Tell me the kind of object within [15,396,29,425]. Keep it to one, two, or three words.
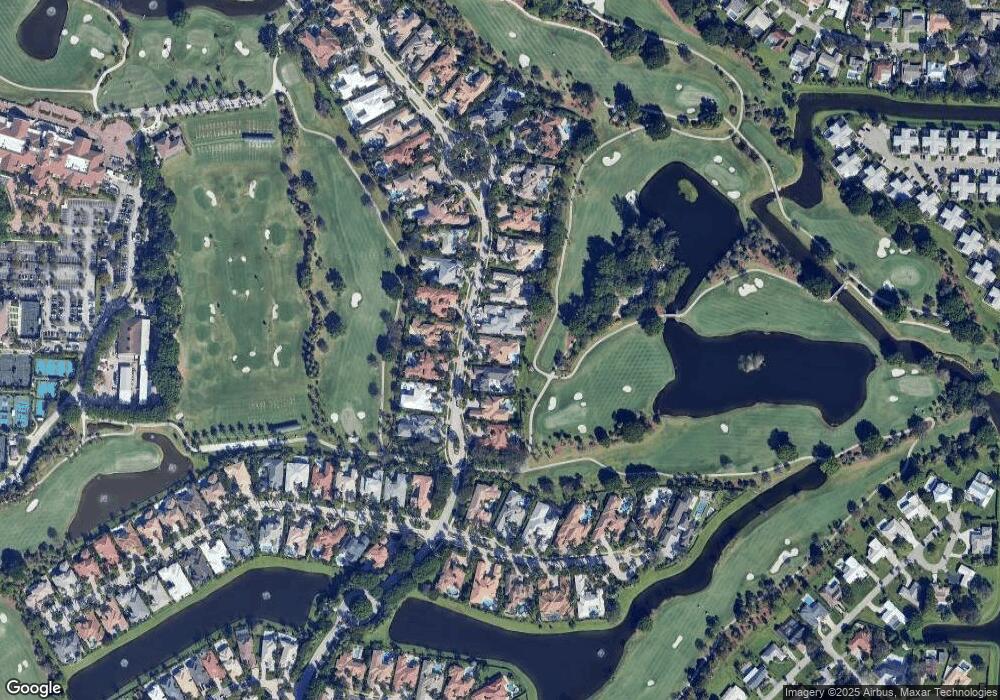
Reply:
tennis court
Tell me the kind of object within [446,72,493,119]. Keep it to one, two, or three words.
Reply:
house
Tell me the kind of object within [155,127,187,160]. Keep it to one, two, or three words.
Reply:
building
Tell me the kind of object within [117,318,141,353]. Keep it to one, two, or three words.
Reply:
barn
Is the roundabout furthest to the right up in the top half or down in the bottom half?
top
